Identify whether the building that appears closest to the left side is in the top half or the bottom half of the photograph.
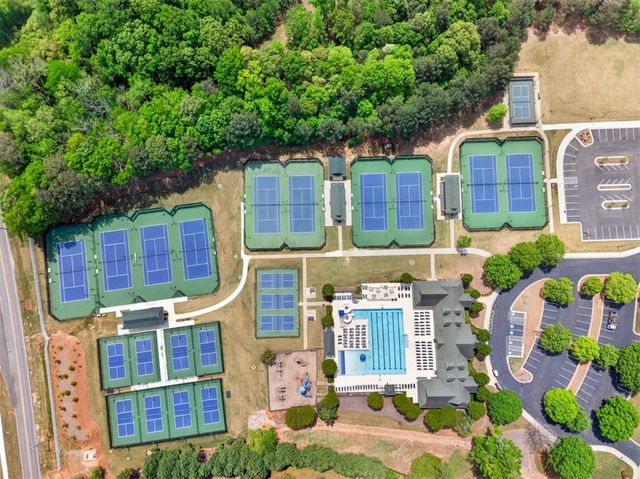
bottom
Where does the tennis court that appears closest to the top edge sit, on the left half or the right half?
right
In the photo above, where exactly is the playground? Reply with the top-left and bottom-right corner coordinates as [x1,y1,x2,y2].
[268,350,316,410]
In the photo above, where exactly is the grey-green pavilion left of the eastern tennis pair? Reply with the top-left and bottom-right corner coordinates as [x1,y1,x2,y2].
[442,174,461,213]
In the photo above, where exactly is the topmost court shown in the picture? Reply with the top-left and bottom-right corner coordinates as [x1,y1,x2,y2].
[509,77,538,124]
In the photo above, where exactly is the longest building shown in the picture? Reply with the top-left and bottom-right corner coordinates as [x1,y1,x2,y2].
[411,281,479,410]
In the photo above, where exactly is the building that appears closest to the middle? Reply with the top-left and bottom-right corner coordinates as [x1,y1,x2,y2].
[331,182,346,225]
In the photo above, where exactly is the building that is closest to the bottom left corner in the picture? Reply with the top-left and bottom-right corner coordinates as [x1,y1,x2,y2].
[121,307,166,329]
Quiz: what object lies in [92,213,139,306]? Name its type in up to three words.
tennis court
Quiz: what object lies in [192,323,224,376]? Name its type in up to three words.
sports court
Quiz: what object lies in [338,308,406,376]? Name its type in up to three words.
swimming pool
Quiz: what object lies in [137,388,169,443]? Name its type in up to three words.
sports court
